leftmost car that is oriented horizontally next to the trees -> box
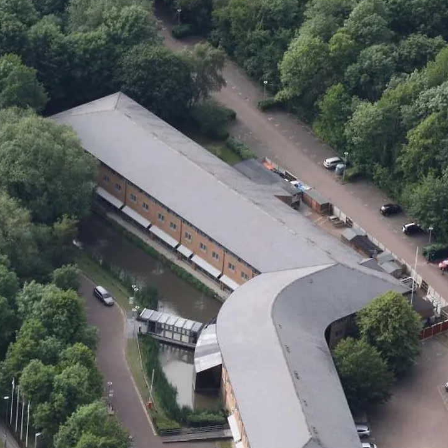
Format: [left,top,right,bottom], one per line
[319,155,347,169]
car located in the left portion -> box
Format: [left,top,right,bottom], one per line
[94,284,111,305]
